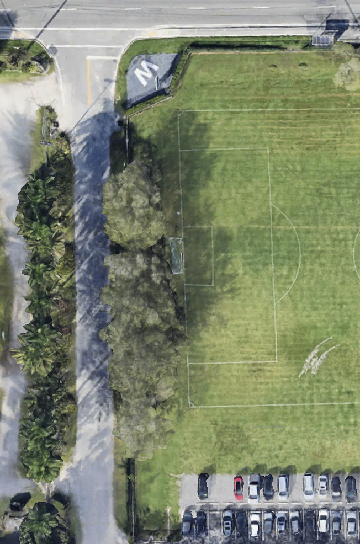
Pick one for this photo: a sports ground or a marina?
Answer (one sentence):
What you see here is a sports ground.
